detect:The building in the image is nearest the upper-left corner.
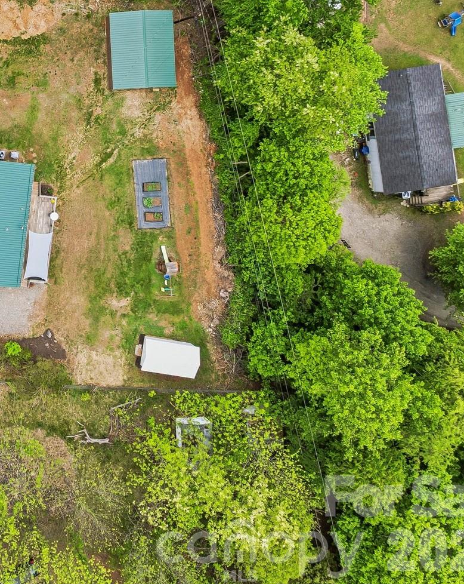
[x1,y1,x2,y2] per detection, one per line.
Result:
[104,10,177,90]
